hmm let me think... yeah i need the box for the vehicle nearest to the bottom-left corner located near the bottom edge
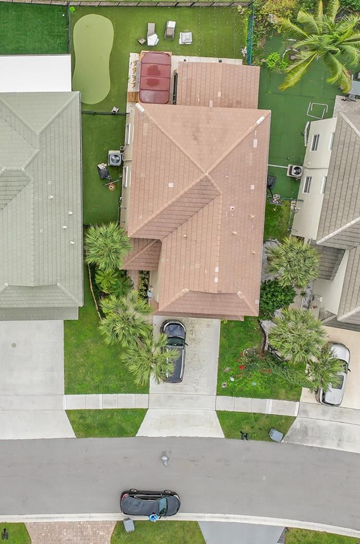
[120,488,179,519]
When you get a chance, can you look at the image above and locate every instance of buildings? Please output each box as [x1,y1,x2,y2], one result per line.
[291,112,360,331]
[0,54,85,321]
[118,62,272,321]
